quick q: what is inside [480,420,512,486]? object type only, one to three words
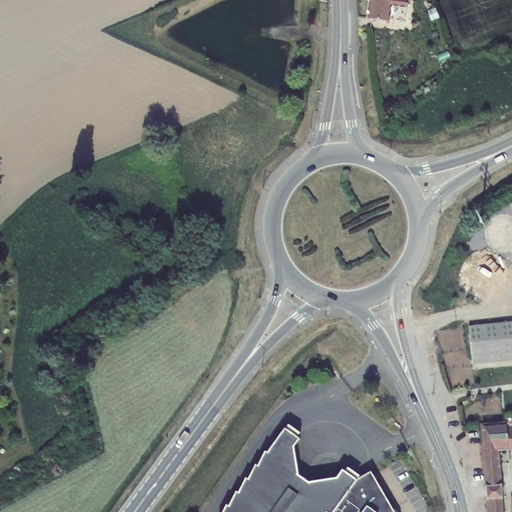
house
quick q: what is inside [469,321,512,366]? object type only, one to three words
hangar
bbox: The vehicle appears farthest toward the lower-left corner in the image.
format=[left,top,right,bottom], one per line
[176,428,190,445]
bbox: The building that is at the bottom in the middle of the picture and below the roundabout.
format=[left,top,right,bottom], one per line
[224,424,394,512]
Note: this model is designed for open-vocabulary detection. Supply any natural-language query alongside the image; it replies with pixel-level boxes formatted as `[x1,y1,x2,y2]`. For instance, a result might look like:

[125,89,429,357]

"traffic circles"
[256,146,436,316]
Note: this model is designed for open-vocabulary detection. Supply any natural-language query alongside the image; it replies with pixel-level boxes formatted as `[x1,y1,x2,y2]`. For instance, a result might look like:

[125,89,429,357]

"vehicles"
[403,483,414,492]
[472,468,484,474]
[176,428,190,445]
[473,474,484,480]
[326,292,338,300]
[448,421,459,426]
[273,284,280,296]
[398,320,404,330]
[468,432,478,437]
[452,492,458,502]
[494,154,507,163]
[410,392,418,404]
[446,406,457,412]
[398,472,408,480]
[364,154,376,162]
[470,438,480,443]
[456,432,466,440]
[478,266,492,276]
[306,164,316,173]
